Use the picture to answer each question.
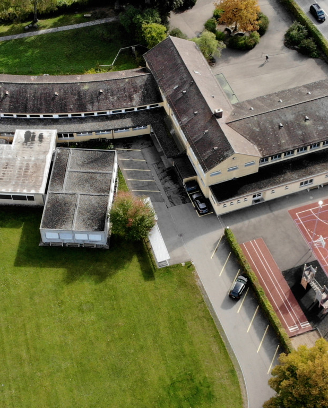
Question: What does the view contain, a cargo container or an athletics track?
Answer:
athletics track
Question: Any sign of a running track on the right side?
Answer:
Yes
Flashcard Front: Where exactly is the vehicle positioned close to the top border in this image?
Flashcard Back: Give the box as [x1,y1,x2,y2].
[310,2,325,19]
